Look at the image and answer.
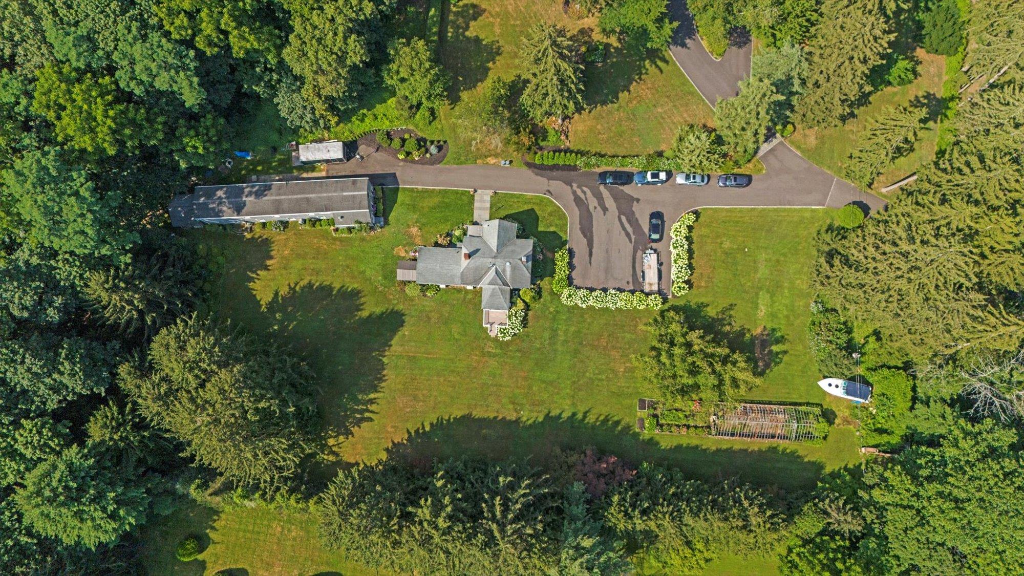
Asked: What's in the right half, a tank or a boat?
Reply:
boat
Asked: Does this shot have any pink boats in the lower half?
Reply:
No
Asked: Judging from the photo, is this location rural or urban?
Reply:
rural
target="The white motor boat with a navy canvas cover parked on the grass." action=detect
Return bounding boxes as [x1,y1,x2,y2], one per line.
[817,379,870,405]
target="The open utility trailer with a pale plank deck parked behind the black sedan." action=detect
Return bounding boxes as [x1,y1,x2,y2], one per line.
[640,244,661,294]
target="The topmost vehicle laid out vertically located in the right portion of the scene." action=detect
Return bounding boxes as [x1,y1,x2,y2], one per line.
[647,211,664,244]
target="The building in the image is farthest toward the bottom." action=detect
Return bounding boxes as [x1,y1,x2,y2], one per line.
[397,219,533,337]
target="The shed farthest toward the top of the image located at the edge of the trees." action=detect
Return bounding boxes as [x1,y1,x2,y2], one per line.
[292,142,348,168]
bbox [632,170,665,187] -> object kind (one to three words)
car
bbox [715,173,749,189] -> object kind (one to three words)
car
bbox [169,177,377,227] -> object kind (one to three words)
house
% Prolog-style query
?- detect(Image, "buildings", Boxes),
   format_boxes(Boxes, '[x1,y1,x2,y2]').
[397,219,533,337]
[292,142,348,168]
[169,177,377,227]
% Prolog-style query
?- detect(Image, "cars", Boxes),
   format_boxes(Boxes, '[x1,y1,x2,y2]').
[674,172,707,187]
[647,211,664,244]
[632,170,665,187]
[715,173,749,189]
[596,170,630,186]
